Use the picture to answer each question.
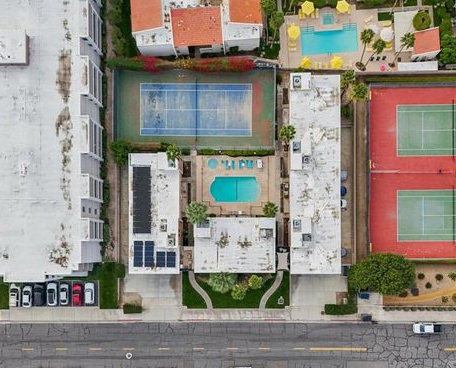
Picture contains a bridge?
No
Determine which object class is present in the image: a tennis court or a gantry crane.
tennis court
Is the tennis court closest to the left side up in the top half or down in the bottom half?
top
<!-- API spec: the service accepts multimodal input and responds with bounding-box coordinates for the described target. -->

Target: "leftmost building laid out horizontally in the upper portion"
[130,0,266,61]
